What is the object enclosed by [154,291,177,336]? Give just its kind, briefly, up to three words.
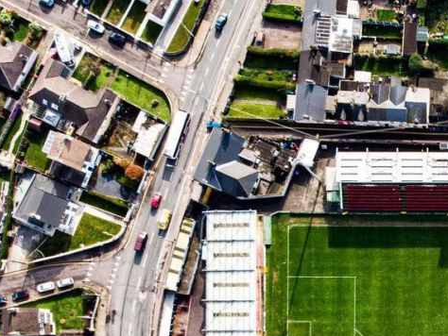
shed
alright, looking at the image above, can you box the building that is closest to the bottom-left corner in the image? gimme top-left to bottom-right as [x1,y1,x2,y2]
[2,307,49,336]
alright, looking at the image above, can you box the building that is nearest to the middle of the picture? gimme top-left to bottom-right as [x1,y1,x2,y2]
[187,122,284,200]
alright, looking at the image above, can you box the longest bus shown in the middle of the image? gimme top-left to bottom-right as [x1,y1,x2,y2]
[165,111,191,159]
